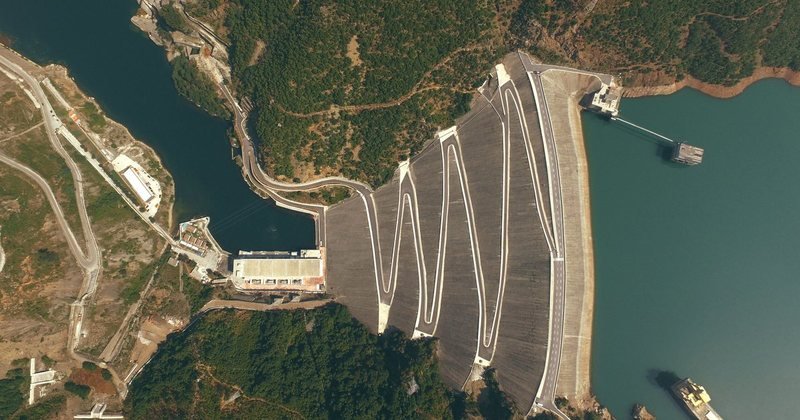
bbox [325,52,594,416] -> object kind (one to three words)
dam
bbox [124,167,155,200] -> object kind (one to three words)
building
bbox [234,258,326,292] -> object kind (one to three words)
building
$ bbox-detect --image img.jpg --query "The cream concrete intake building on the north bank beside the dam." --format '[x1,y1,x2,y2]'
[579,84,623,122]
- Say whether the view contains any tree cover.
Yes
